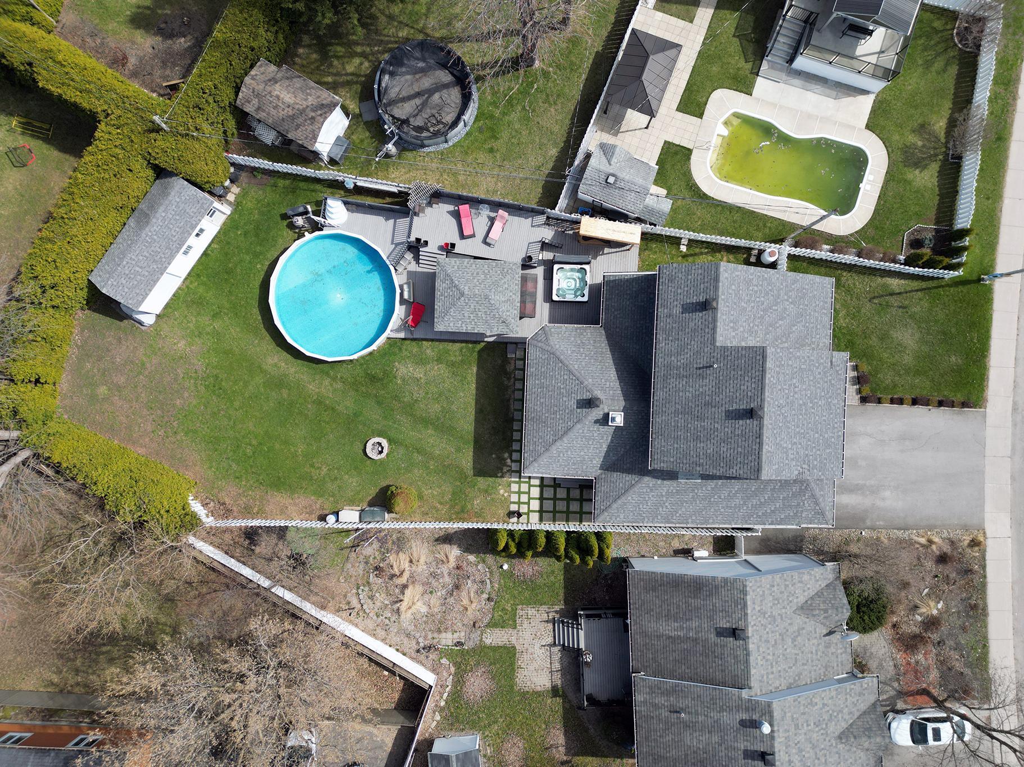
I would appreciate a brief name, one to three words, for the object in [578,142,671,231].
shed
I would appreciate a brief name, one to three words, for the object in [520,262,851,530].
house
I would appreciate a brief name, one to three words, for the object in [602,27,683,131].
gazebo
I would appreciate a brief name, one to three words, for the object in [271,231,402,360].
swimming pool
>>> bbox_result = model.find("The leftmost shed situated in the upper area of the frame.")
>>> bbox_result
[90,170,237,311]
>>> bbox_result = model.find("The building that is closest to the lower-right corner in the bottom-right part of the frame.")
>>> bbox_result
[624,556,892,767]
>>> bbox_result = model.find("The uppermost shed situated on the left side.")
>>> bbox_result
[236,58,349,160]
